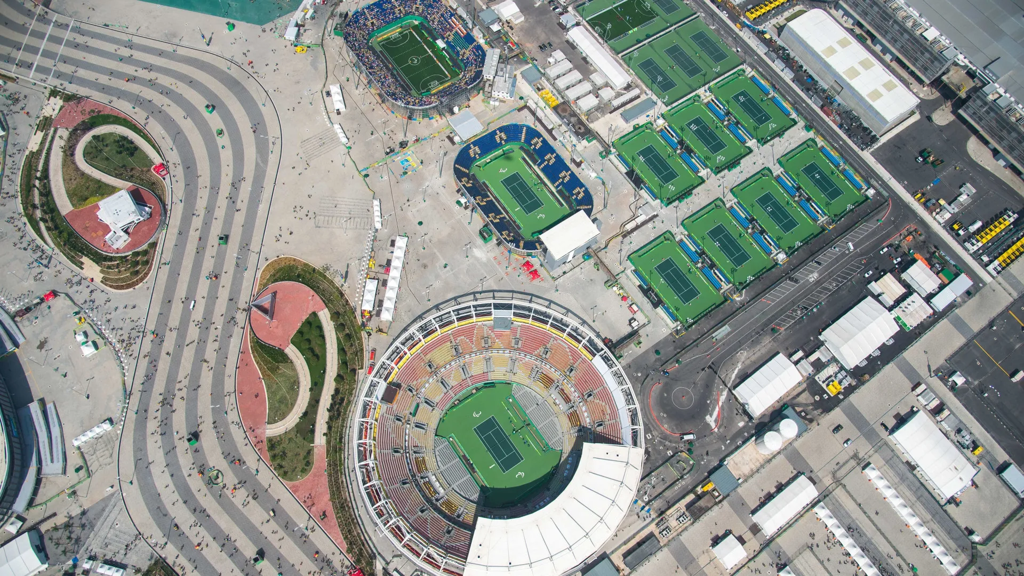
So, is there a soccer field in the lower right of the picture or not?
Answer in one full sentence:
No, no soccer field is visible in the lower right of the picture.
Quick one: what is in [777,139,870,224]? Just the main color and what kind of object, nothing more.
green tennis court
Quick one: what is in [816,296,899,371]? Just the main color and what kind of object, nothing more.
white tent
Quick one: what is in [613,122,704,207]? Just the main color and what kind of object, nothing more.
green tennis court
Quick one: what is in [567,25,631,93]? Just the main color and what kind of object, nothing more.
white tent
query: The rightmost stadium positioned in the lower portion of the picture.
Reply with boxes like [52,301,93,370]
[355,300,645,576]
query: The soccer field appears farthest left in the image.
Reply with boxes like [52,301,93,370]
[378,24,459,93]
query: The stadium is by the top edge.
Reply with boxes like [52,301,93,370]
[340,0,491,125]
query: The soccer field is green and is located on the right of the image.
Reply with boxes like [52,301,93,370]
[586,0,658,42]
